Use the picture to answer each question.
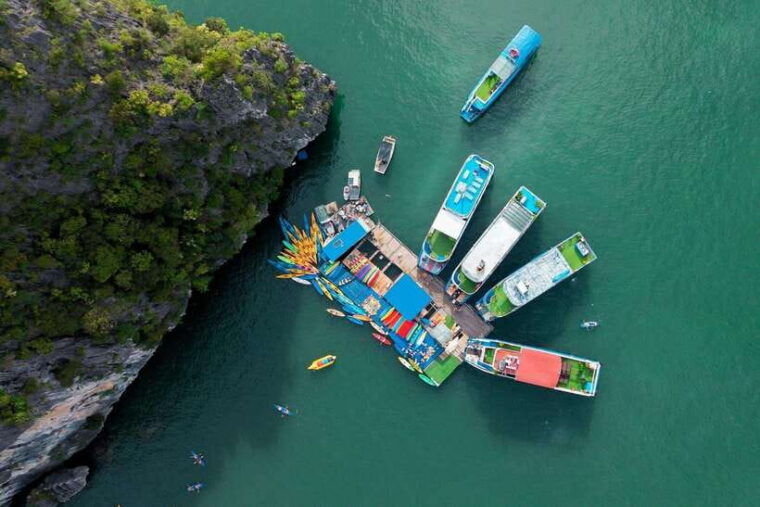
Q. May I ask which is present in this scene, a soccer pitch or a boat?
boat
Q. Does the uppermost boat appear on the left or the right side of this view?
right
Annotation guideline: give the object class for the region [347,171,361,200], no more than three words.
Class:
boat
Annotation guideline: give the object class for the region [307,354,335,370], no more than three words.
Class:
boat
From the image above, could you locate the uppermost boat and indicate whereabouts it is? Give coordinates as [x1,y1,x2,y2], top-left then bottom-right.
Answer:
[462,24,540,121]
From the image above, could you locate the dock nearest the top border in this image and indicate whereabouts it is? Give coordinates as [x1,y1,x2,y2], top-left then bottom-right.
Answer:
[367,223,421,280]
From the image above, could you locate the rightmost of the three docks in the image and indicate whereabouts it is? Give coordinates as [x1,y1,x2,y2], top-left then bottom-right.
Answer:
[412,262,463,314]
